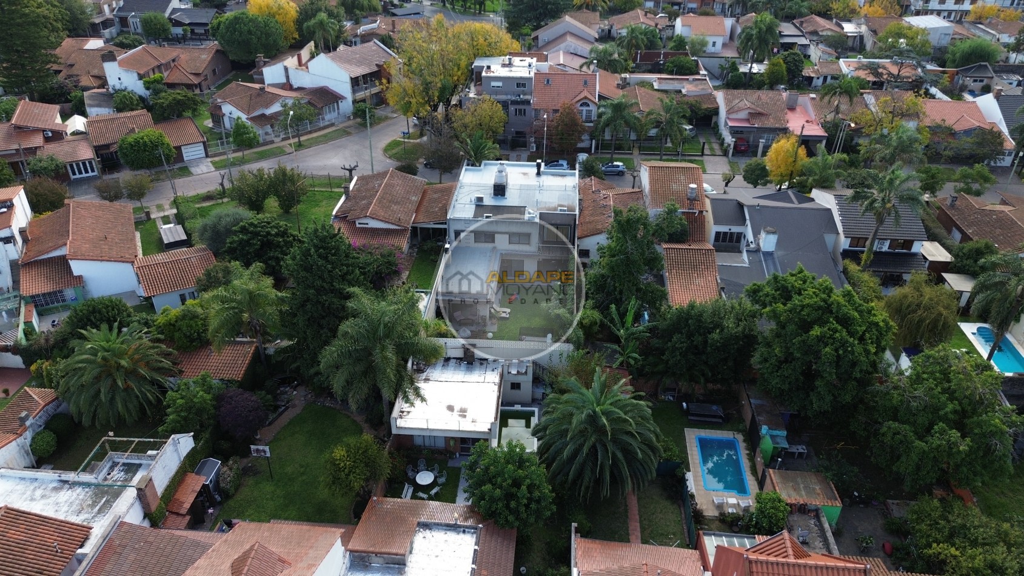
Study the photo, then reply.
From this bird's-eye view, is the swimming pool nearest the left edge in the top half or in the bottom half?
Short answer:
bottom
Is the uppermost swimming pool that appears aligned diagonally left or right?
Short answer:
right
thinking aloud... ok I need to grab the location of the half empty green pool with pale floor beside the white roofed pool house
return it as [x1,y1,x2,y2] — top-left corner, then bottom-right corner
[499,408,536,451]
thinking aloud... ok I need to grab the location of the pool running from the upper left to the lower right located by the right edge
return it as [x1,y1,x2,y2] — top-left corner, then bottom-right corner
[971,326,1024,374]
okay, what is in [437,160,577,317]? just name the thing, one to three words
house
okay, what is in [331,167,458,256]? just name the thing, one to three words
house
